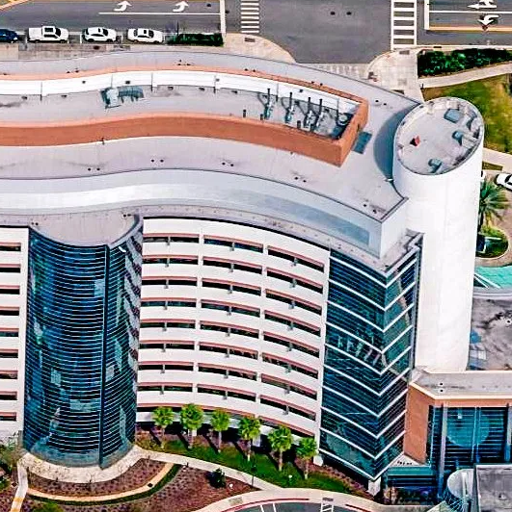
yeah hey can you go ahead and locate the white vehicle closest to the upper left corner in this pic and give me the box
[27,25,69,42]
